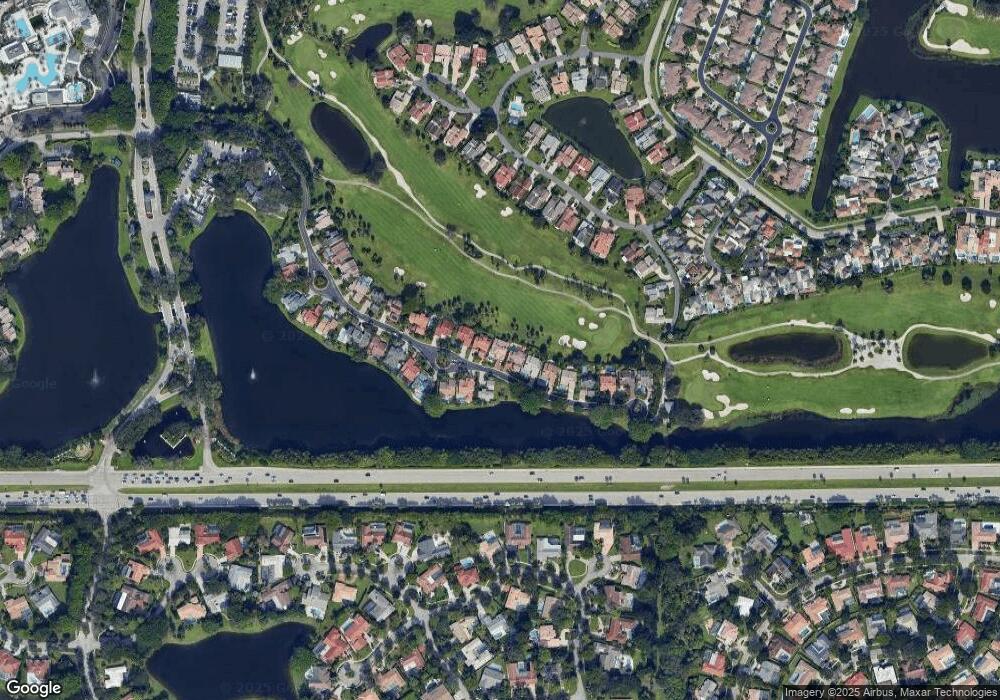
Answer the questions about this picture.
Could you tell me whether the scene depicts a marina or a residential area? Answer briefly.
residential area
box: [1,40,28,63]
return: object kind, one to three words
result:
building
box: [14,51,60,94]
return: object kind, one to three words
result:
swimming pool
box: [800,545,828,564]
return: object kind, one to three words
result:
house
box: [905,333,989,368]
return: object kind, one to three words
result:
pond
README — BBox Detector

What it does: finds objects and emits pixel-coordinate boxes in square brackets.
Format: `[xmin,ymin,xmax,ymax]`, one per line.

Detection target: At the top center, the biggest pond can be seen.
[543,97,645,182]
